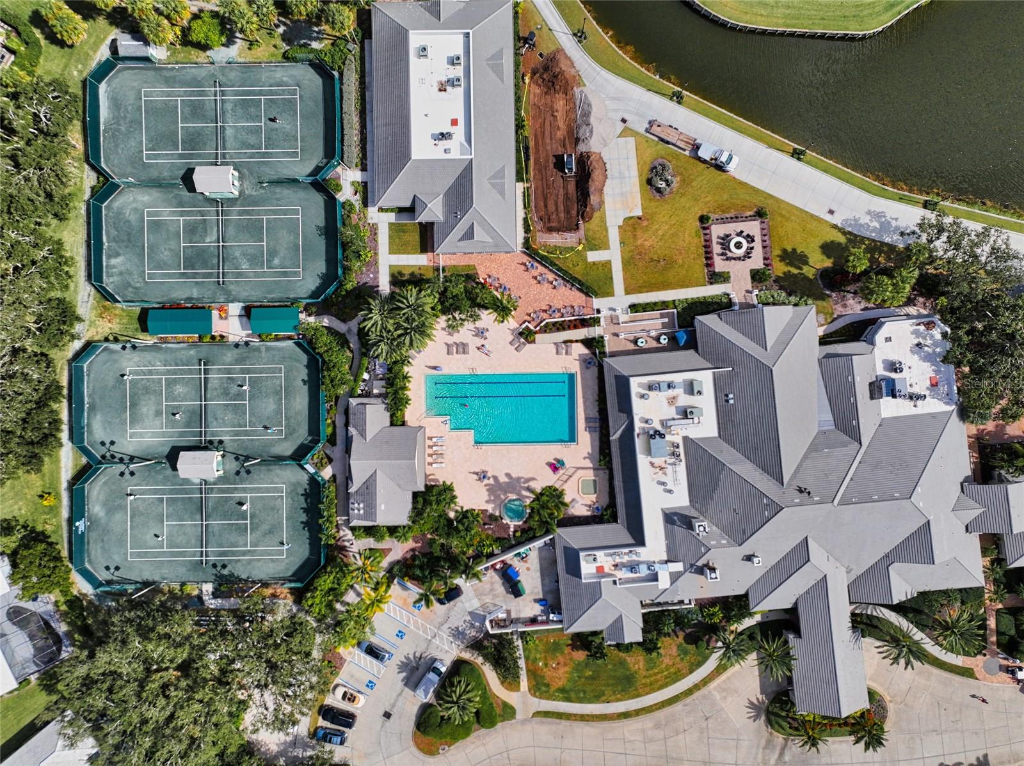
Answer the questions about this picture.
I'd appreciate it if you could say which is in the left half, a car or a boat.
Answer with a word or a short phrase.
car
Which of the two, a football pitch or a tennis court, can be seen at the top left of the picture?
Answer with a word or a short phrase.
tennis court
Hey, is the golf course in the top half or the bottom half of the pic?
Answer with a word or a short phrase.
top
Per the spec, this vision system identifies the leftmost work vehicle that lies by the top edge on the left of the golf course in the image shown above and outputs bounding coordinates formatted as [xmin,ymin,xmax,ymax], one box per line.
[522,28,536,59]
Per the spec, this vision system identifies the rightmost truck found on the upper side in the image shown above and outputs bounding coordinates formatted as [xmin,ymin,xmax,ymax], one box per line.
[696,139,741,169]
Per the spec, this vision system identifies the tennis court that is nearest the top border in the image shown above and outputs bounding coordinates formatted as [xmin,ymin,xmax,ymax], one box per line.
[101,64,335,183]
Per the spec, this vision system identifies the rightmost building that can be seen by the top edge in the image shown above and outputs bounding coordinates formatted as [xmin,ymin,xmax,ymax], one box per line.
[371,0,517,255]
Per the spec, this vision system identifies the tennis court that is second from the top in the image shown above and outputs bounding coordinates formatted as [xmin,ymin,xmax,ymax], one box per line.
[103,182,336,302]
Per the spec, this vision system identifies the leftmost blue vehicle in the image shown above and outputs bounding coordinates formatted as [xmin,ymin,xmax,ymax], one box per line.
[315,725,347,747]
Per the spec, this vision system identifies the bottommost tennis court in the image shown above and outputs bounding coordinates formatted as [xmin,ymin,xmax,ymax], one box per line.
[87,463,321,585]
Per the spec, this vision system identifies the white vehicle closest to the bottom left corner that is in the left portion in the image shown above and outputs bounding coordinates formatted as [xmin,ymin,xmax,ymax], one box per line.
[334,685,366,709]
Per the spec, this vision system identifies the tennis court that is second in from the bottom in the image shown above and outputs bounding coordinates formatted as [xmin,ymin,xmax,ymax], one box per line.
[85,342,320,463]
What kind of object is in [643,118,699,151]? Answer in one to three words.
trailer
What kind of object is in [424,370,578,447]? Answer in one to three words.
swimming pool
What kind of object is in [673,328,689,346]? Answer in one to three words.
umbrella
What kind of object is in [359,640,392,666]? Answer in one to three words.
car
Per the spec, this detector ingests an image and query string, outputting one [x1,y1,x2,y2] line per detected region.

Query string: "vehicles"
[334,685,366,709]
[522,28,536,59]
[436,582,465,607]
[413,660,445,701]
[315,725,347,747]
[322,705,356,729]
[562,154,576,179]
[1010,668,1024,681]
[359,640,392,666]
[696,139,741,169]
